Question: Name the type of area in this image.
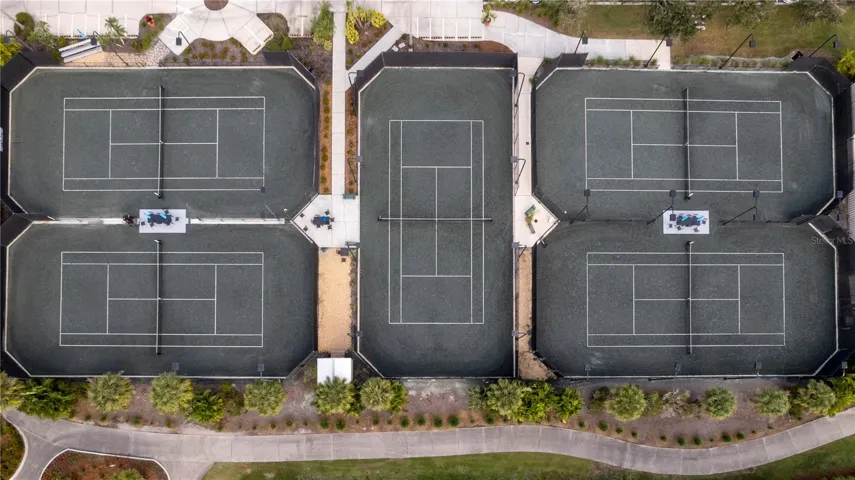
sports ground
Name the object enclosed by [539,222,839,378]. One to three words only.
tennis court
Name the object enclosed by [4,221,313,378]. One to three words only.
tennis court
